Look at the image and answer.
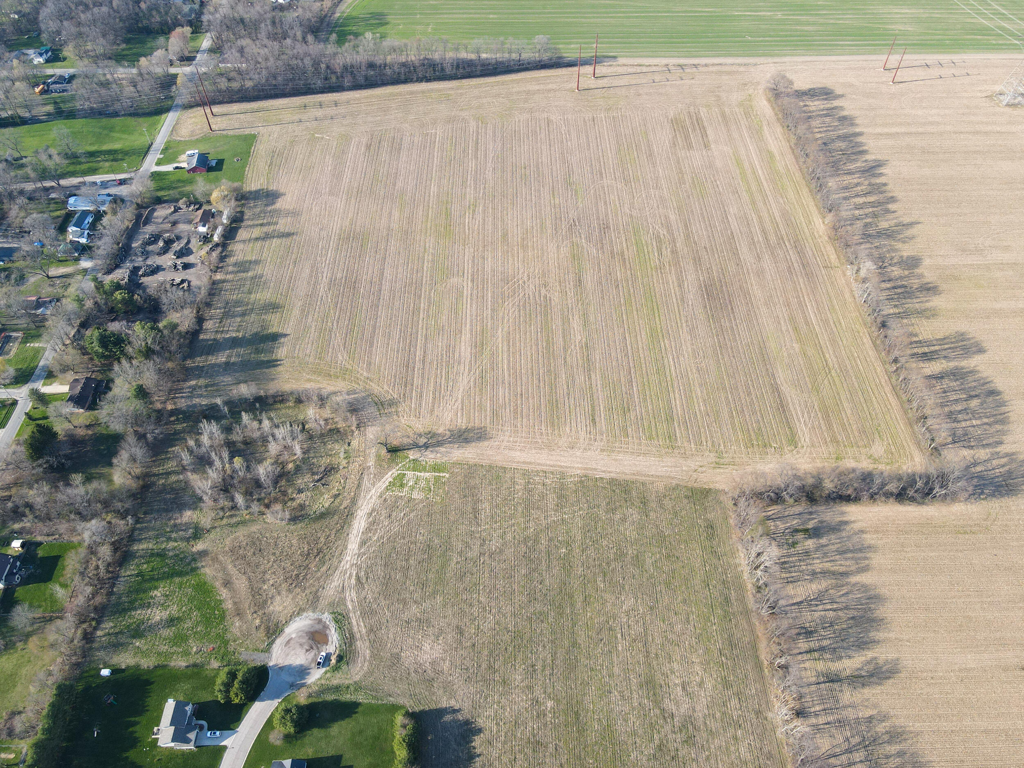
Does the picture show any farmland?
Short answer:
Yes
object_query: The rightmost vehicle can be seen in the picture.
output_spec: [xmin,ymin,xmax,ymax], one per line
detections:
[314,651,326,669]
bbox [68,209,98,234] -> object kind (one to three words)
house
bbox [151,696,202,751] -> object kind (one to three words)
house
